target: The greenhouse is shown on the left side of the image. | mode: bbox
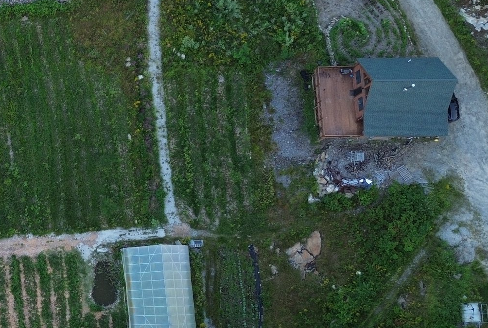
[118,245,195,328]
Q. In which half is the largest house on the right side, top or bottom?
top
